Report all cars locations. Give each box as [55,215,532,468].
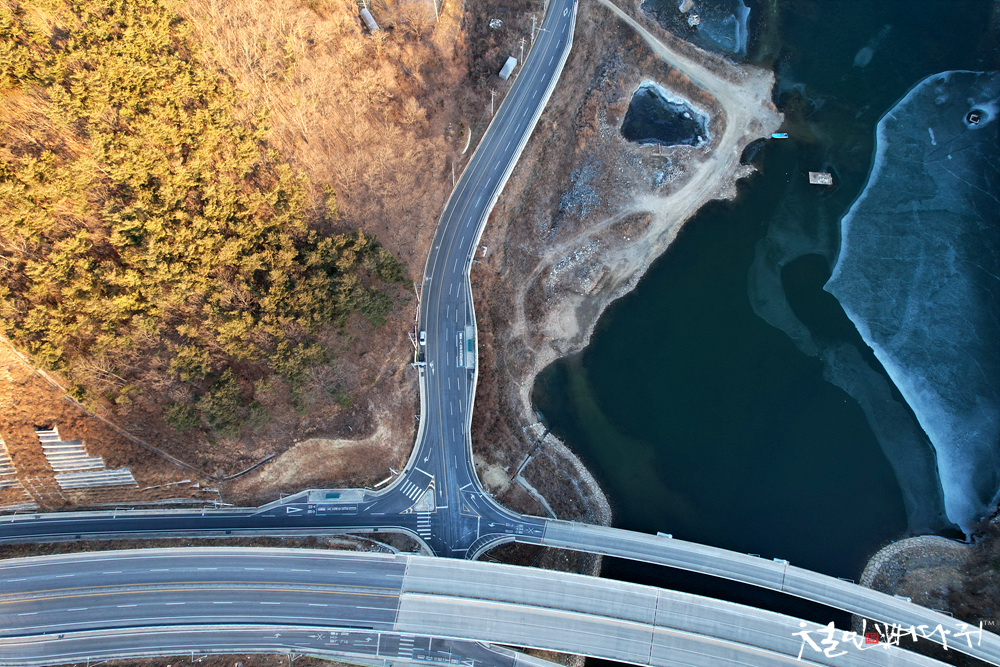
[419,349,425,362]
[419,332,426,345]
